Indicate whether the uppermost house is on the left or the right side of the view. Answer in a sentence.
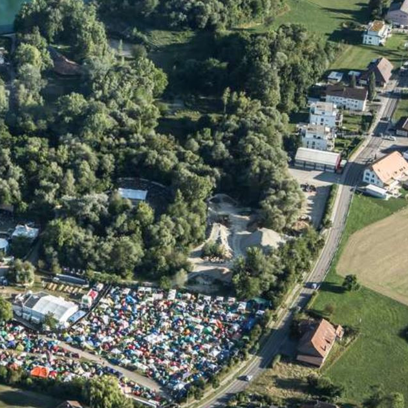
The uppermost house is on the right side of the image.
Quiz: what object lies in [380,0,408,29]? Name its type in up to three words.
house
